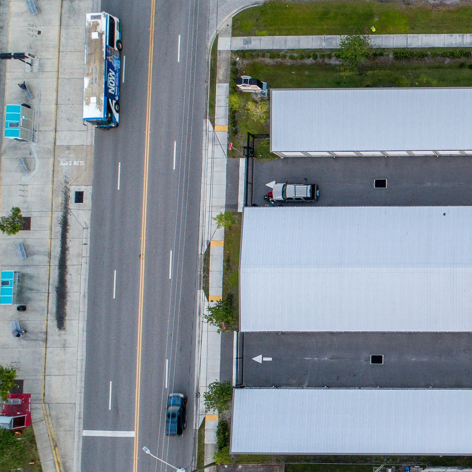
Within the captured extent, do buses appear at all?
Yes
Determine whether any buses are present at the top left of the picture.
Yes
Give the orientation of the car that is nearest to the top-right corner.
horizontally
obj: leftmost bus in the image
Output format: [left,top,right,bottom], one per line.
[82,12,122,129]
